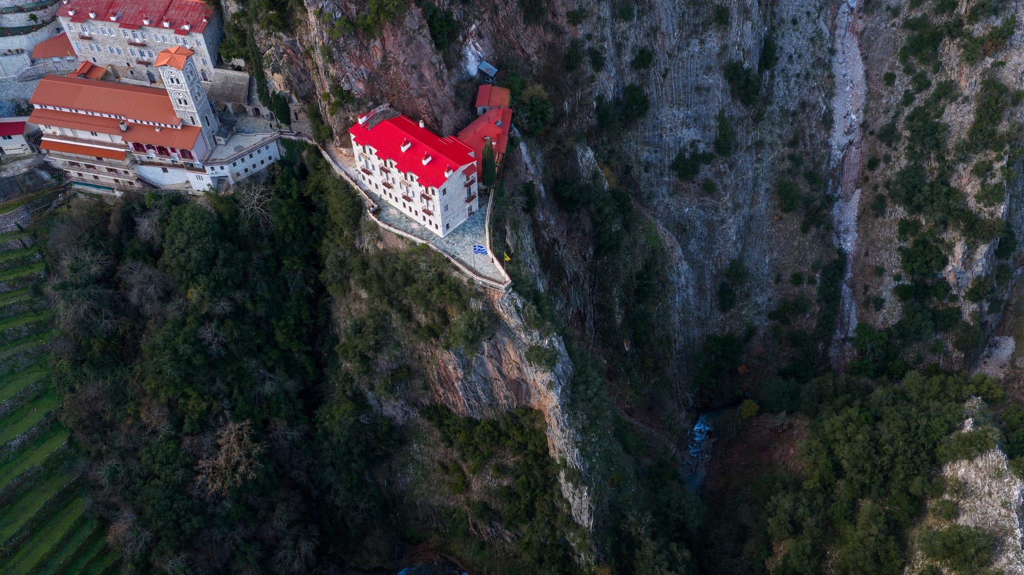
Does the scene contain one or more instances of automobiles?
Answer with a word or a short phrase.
No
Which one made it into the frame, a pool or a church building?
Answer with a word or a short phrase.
church building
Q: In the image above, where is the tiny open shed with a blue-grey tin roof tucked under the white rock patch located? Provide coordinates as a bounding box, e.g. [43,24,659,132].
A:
[478,60,498,84]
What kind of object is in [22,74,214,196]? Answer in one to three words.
church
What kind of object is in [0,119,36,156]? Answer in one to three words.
house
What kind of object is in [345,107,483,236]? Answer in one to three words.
building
